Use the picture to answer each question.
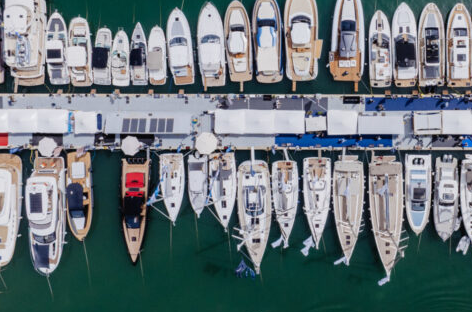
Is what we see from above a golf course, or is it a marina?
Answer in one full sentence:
This looks like a marina.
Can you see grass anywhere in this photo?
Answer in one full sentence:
No, there's no grass in this view.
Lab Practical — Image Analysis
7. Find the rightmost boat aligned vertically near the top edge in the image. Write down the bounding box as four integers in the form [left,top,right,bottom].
[441,0,472,99]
